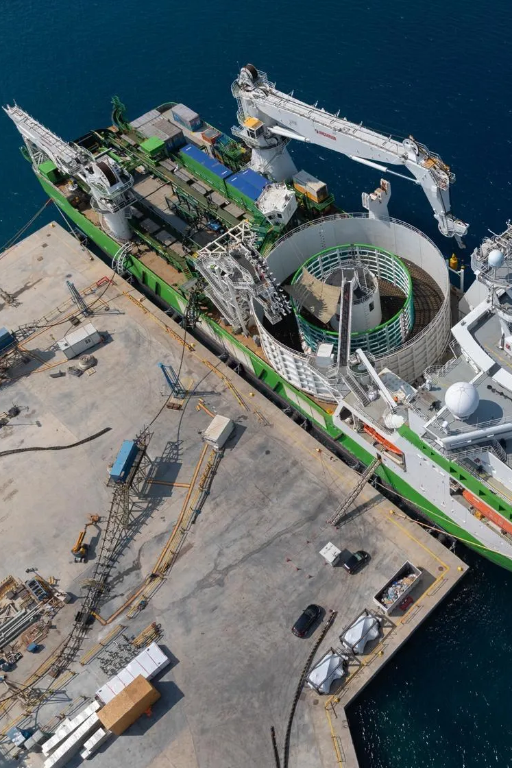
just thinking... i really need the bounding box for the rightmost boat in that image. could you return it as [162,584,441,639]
[464,489,512,540]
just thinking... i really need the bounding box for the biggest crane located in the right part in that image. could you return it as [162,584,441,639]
[214,61,465,253]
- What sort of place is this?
port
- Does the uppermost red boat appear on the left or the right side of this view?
right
